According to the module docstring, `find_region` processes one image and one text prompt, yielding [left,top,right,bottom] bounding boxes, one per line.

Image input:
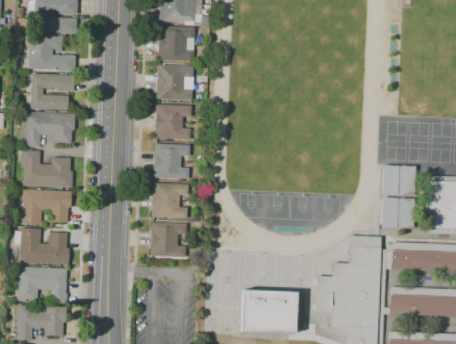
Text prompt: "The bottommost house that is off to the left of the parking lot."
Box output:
[18,306,67,340]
